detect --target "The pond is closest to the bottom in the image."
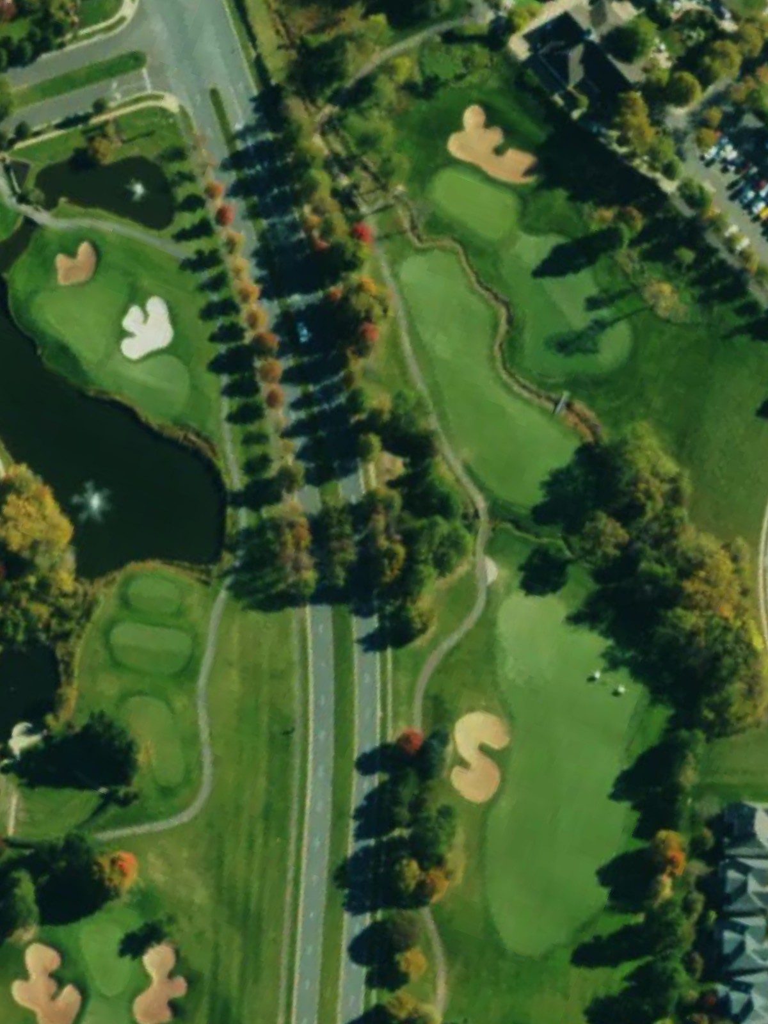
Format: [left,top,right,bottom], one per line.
[0,643,59,743]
